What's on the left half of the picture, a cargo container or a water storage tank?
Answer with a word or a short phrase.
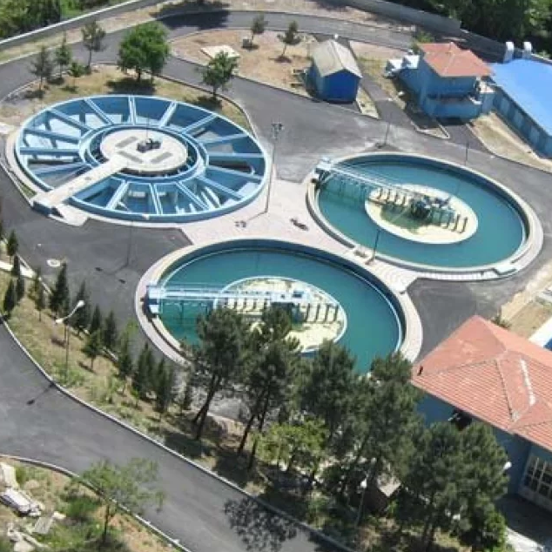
water storage tank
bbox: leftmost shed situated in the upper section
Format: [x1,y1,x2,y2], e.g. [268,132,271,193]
[313,37,363,103]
